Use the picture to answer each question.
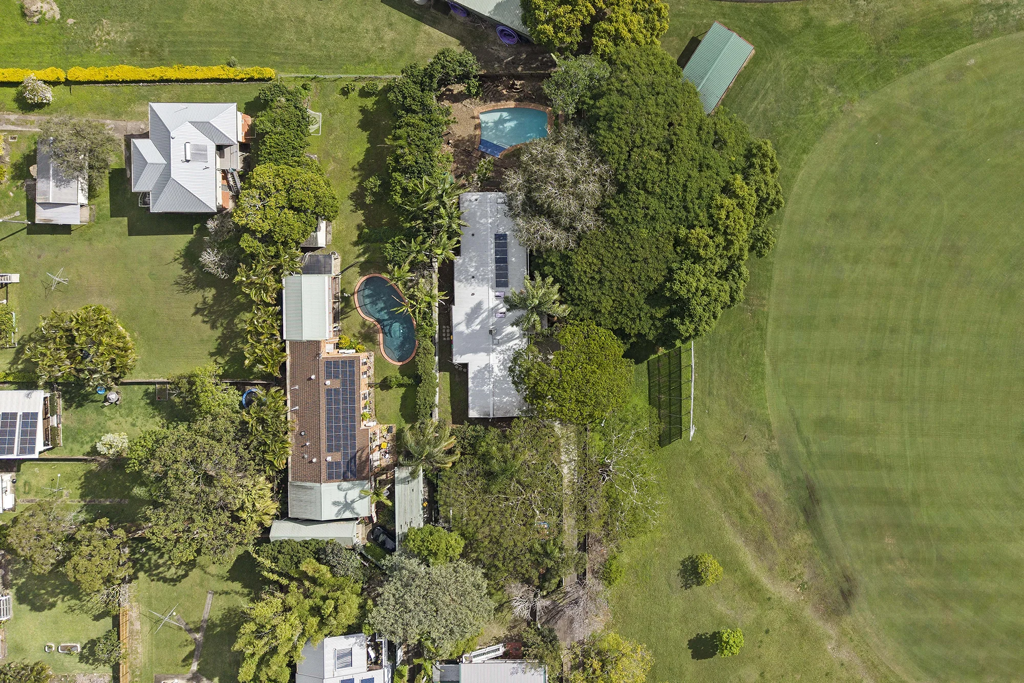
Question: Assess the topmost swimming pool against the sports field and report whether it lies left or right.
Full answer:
The topmost swimming pool is to the left of the sports field.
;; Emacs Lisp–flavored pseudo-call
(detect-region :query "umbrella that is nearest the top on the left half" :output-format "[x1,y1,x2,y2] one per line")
[105,389,124,405]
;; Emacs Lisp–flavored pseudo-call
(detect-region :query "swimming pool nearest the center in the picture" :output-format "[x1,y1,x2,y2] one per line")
[354,274,418,365]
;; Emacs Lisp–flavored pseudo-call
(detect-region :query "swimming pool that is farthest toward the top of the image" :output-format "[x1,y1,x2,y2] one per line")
[473,103,553,163]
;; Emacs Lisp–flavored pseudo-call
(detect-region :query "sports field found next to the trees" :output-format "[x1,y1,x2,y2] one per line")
[767,33,1024,683]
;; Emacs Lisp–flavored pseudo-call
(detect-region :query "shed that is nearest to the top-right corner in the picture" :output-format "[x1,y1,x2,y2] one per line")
[675,21,754,110]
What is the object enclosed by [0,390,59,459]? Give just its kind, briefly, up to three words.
house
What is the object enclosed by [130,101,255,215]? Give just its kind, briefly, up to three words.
house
